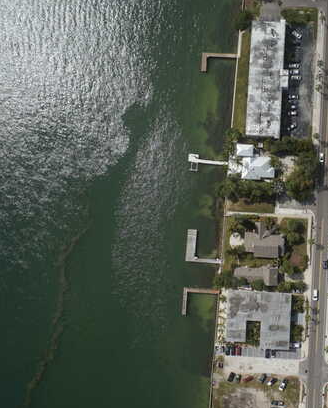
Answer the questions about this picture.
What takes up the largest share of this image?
water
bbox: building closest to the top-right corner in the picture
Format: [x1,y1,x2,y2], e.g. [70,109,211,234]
[246,20,289,140]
